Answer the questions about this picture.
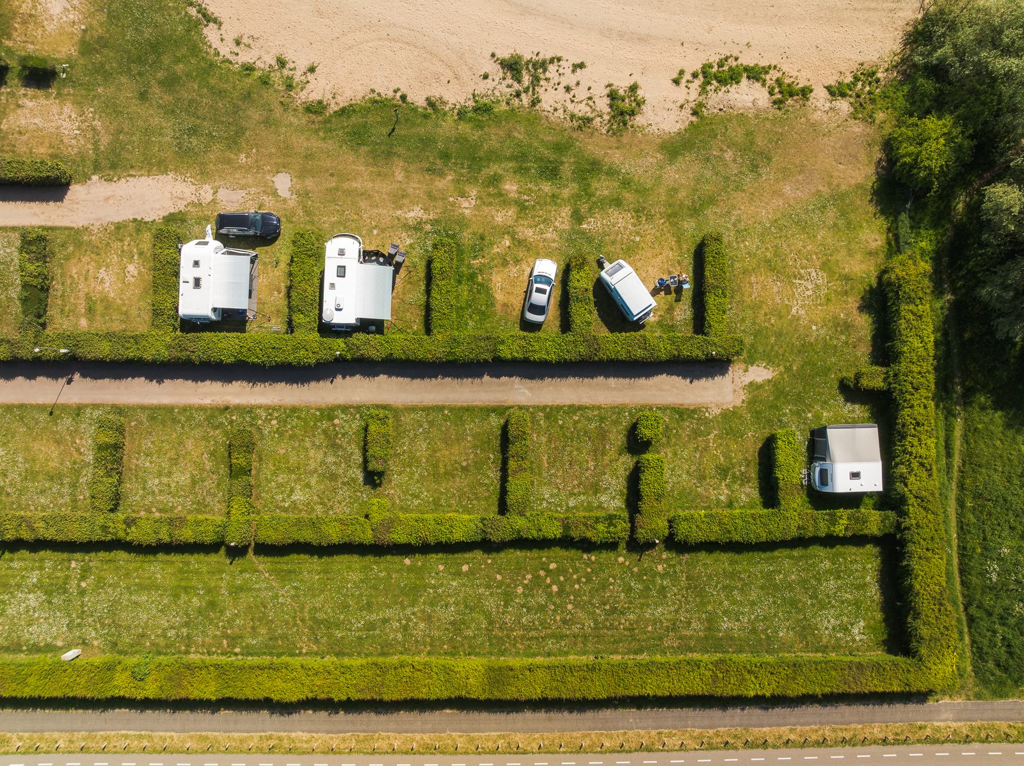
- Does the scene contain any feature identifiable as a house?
No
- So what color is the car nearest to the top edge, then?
black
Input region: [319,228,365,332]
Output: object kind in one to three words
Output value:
camper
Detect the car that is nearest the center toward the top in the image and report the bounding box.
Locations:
[523,258,558,325]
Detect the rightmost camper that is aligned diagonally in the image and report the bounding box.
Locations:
[598,256,656,325]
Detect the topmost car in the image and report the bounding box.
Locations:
[215,208,284,241]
